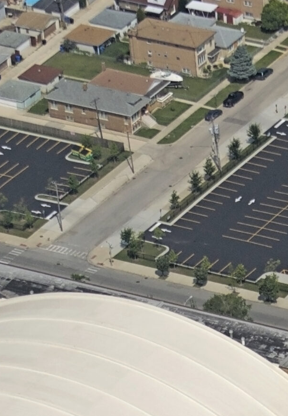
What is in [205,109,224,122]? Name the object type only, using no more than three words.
vehicle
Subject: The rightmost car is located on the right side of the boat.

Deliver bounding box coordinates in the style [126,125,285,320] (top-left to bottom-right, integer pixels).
[257,68,275,82]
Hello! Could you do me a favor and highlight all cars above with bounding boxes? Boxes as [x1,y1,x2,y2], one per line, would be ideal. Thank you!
[257,68,275,82]
[224,90,244,107]
[205,109,224,122]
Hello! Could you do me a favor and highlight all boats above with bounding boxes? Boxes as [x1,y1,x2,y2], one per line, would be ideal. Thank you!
[151,70,187,88]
